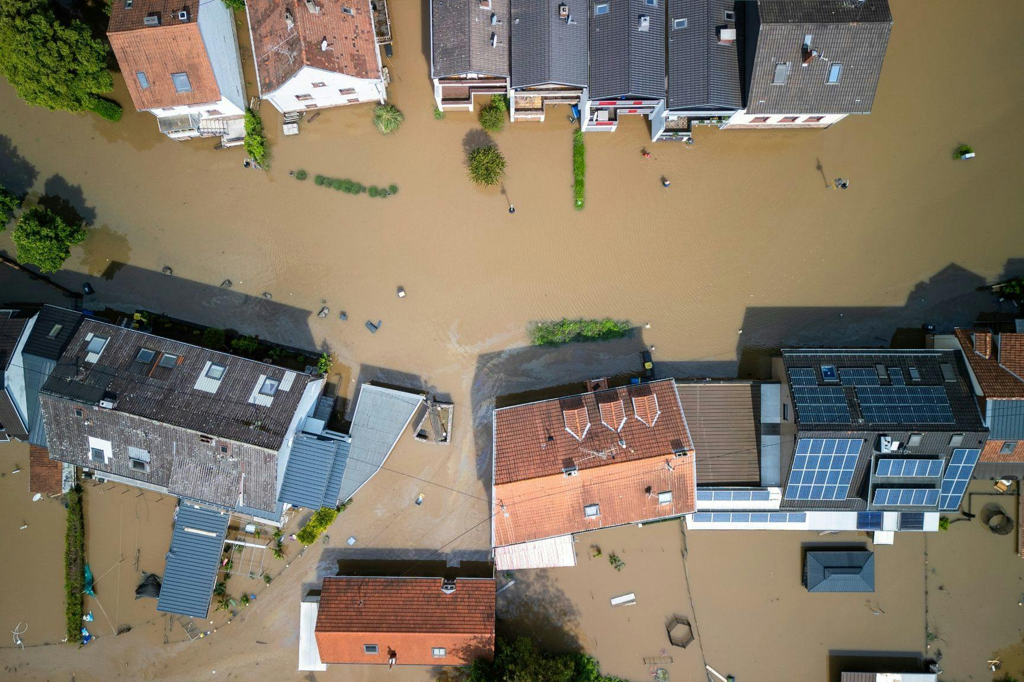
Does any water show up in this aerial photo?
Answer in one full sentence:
Yes, some water is visible.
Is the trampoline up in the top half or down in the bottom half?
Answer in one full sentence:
The trampoline sits in the bottom half of the picture.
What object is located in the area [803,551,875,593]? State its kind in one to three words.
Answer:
building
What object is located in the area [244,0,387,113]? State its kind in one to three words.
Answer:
house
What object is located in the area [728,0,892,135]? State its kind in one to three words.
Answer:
house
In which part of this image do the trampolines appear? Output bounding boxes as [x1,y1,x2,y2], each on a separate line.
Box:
[988,509,1024,535]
